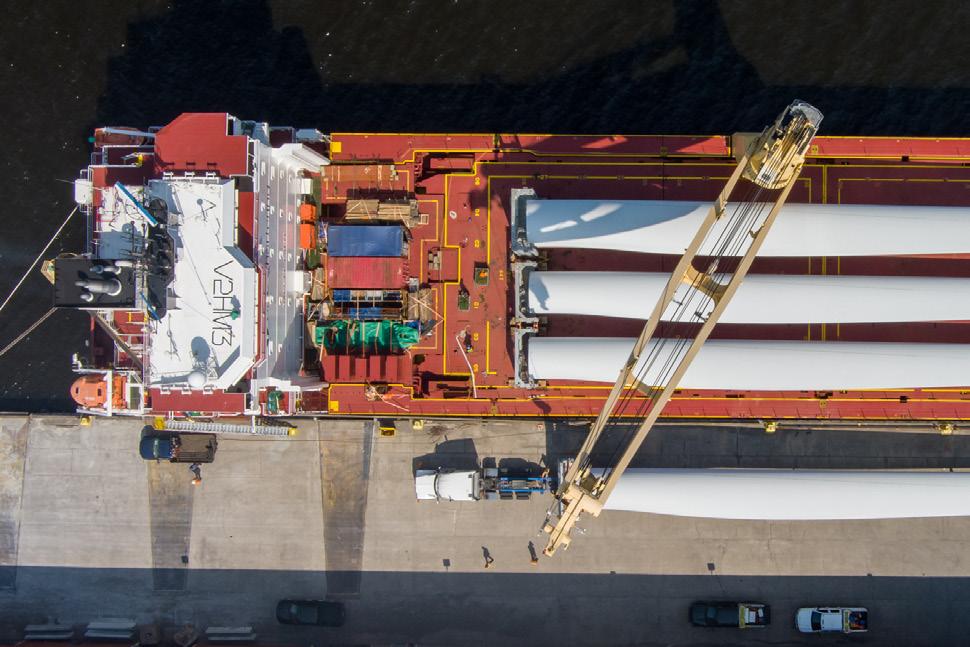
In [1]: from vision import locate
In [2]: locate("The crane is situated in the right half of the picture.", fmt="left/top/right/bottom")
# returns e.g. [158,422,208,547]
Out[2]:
[543,109,830,556]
